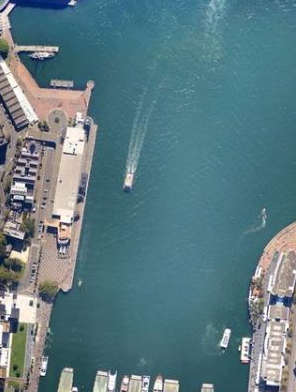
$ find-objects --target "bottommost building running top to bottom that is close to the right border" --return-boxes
[263,319,288,388]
